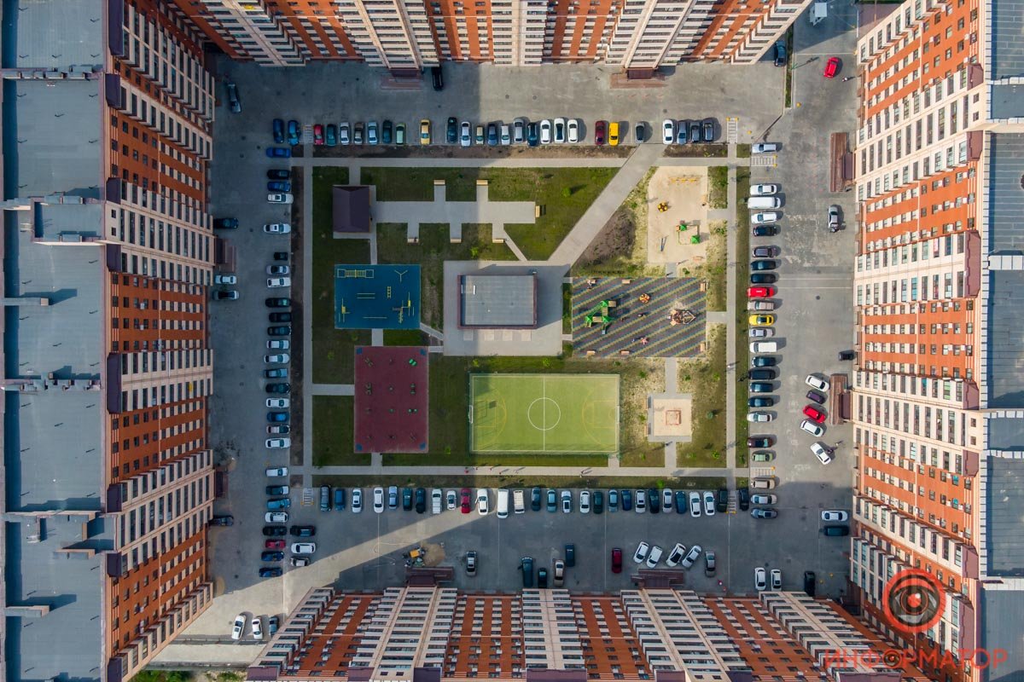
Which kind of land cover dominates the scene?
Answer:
buildings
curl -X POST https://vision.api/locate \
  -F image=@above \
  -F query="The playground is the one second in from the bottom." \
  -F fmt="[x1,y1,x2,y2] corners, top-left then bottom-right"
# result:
[573,277,707,357]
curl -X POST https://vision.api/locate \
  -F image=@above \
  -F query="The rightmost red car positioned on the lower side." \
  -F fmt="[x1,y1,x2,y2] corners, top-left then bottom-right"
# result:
[801,405,827,422]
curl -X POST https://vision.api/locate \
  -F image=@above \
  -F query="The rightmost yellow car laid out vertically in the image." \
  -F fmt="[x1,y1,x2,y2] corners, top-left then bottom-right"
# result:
[608,122,620,147]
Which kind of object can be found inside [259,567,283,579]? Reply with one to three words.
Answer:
vehicle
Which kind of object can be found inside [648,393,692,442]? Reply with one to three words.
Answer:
playground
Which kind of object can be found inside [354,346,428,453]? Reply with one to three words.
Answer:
sports court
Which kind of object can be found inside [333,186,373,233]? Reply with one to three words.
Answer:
building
